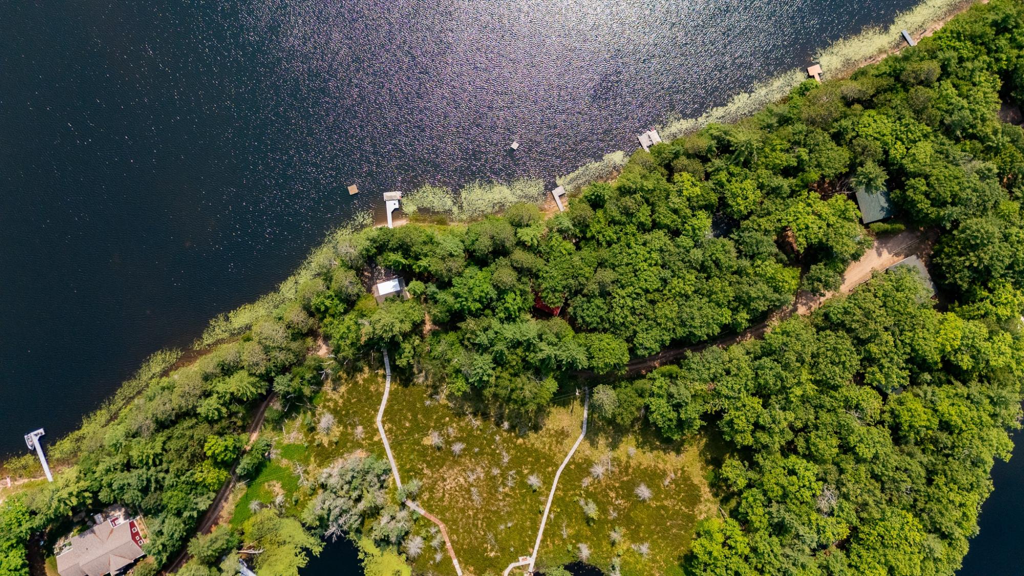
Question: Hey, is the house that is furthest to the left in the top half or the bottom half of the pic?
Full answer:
The house that is furthest to the left sits in the bottom half of the picture.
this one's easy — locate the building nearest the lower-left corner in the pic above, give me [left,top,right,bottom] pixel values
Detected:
[57,514,146,576]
